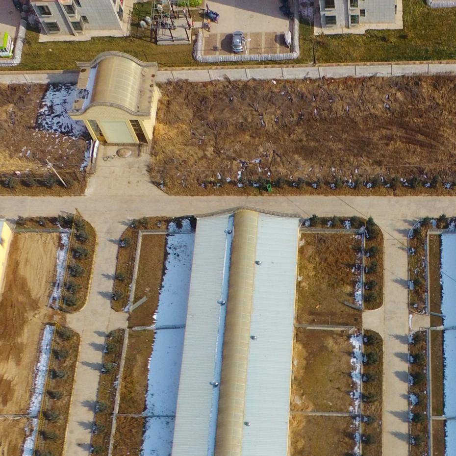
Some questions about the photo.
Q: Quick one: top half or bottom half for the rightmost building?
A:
top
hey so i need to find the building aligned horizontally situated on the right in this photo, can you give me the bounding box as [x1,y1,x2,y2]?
[316,0,408,37]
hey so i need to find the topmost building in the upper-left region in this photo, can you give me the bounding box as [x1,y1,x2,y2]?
[30,0,138,45]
